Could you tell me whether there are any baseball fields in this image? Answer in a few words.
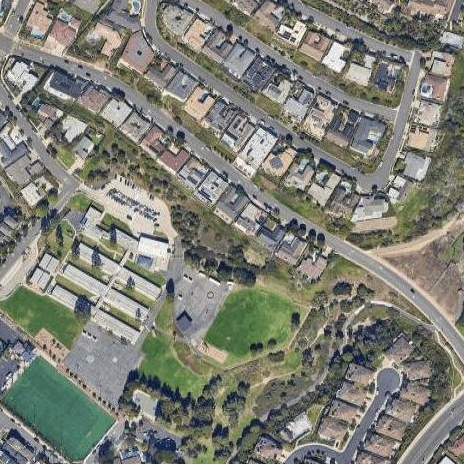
Yes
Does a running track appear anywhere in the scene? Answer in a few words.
No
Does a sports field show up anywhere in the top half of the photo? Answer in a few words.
No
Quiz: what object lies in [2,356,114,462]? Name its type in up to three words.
sports field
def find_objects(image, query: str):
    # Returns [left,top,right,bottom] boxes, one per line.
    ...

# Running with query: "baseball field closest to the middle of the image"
[197,287,309,367]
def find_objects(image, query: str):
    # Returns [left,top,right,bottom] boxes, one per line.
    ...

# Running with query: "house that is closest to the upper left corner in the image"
[27,4,54,36]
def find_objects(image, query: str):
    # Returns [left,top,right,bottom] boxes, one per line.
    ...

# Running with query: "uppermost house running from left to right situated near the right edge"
[405,0,446,19]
